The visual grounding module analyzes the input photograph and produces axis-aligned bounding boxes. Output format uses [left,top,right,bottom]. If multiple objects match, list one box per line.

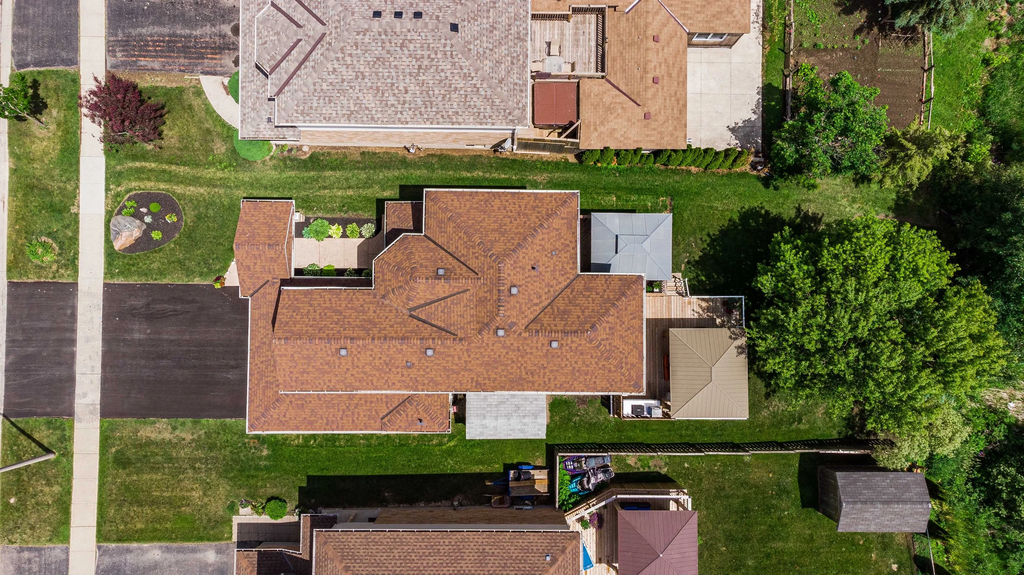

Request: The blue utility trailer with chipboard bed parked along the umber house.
[484,462,550,502]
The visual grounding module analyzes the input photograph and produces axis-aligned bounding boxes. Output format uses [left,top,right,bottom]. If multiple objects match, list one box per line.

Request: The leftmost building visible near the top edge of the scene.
[238,0,532,150]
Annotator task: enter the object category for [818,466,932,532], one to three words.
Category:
shed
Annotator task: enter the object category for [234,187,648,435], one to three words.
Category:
house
